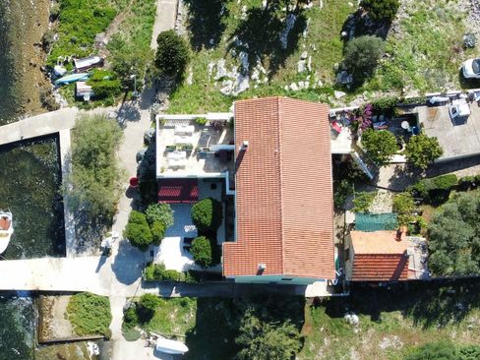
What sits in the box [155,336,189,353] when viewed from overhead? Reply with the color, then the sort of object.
white boat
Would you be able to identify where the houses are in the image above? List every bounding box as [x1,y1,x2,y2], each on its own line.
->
[338,230,412,281]
[218,92,335,280]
